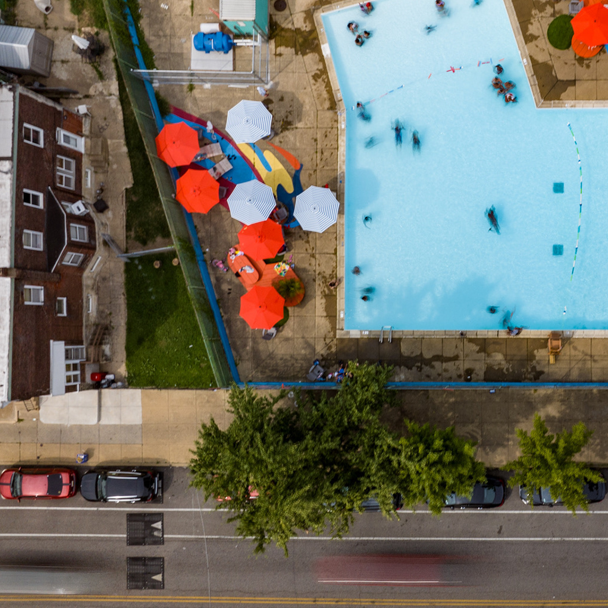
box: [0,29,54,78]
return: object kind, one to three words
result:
shed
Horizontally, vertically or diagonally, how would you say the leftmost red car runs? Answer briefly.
horizontally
